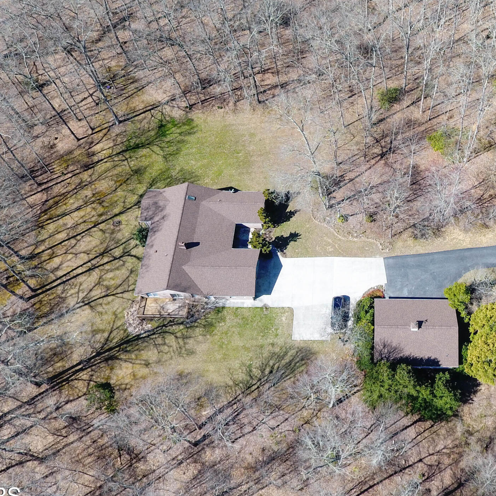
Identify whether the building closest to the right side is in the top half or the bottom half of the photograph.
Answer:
bottom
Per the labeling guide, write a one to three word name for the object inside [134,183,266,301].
house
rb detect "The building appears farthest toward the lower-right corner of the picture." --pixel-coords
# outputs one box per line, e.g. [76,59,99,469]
[374,298,459,366]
